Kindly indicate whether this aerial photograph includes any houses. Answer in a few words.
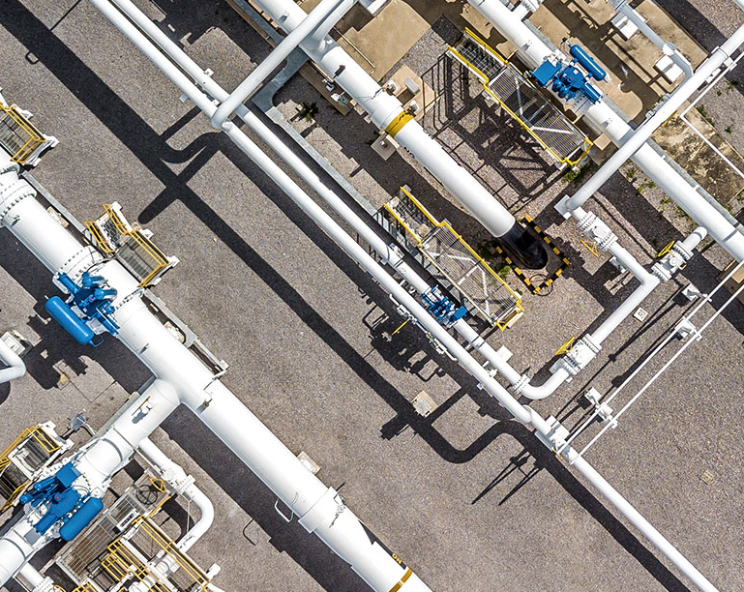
No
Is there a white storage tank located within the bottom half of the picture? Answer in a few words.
No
